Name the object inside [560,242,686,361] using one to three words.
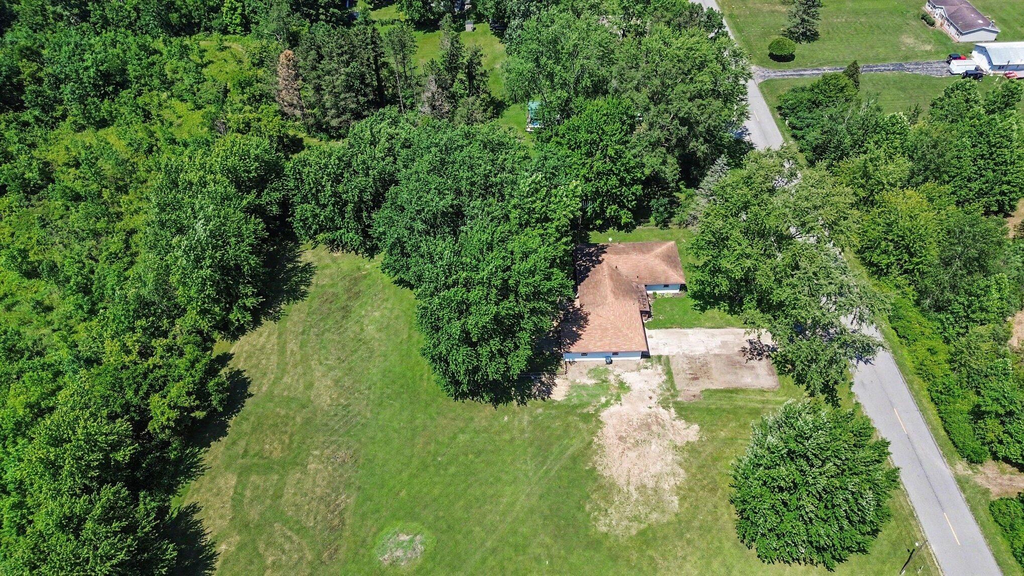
house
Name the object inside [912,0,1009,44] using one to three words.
house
